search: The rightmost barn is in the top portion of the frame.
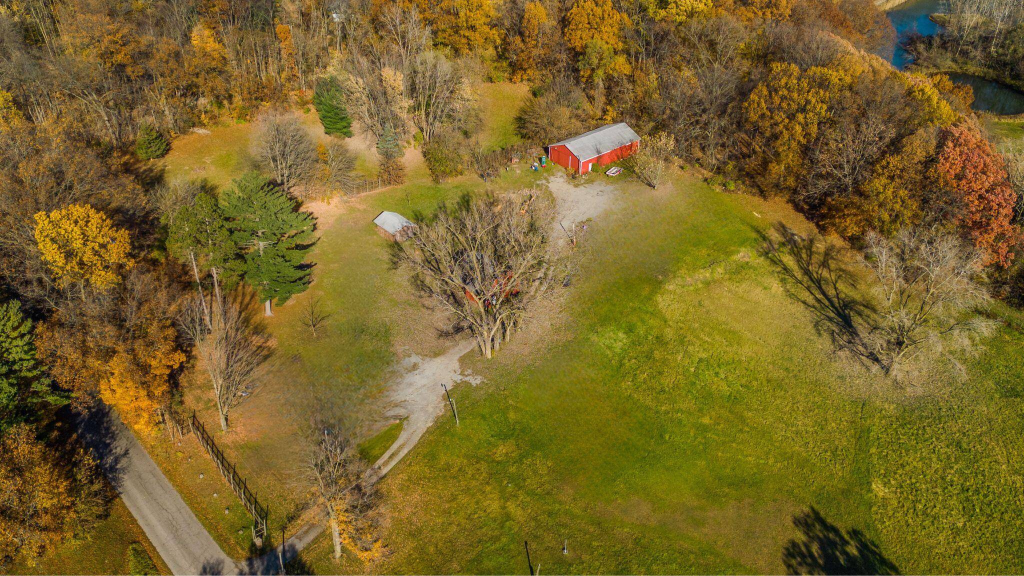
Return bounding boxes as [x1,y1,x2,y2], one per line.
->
[542,124,645,175]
